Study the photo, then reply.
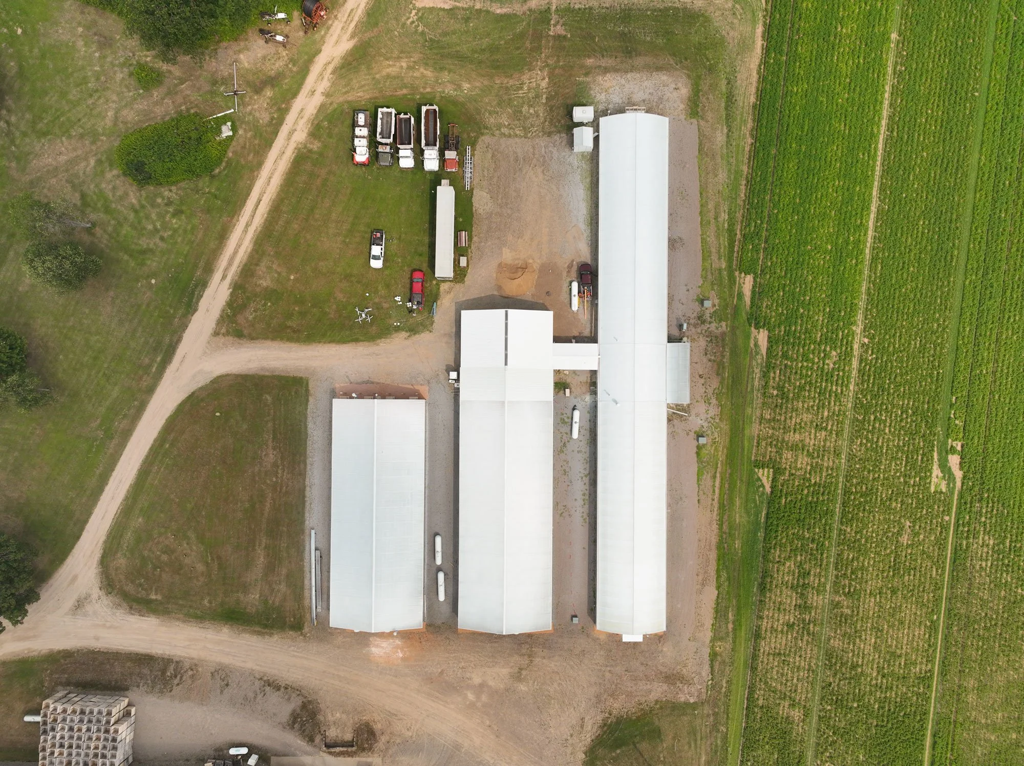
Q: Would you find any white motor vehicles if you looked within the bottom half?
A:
No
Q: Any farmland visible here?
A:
Yes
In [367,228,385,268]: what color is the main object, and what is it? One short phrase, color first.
white vehicle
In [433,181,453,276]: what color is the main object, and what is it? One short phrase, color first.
white trailer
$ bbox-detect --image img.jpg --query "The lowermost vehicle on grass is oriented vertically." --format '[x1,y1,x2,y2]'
[408,270,424,309]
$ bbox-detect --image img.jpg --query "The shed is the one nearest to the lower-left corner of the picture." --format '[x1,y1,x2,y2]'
[330,392,431,635]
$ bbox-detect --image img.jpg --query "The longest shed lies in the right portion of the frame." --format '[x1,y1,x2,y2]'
[595,106,670,639]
